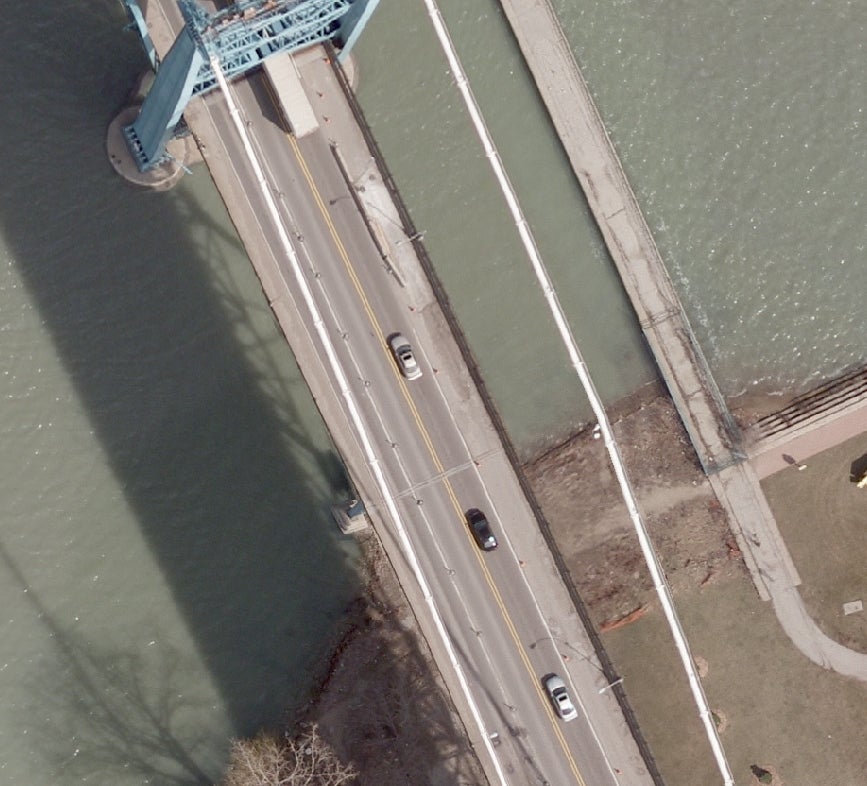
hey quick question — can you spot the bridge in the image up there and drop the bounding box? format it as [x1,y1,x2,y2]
[105,0,735,786]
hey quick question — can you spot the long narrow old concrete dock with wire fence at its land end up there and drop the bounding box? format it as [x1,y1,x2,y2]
[497,0,743,473]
